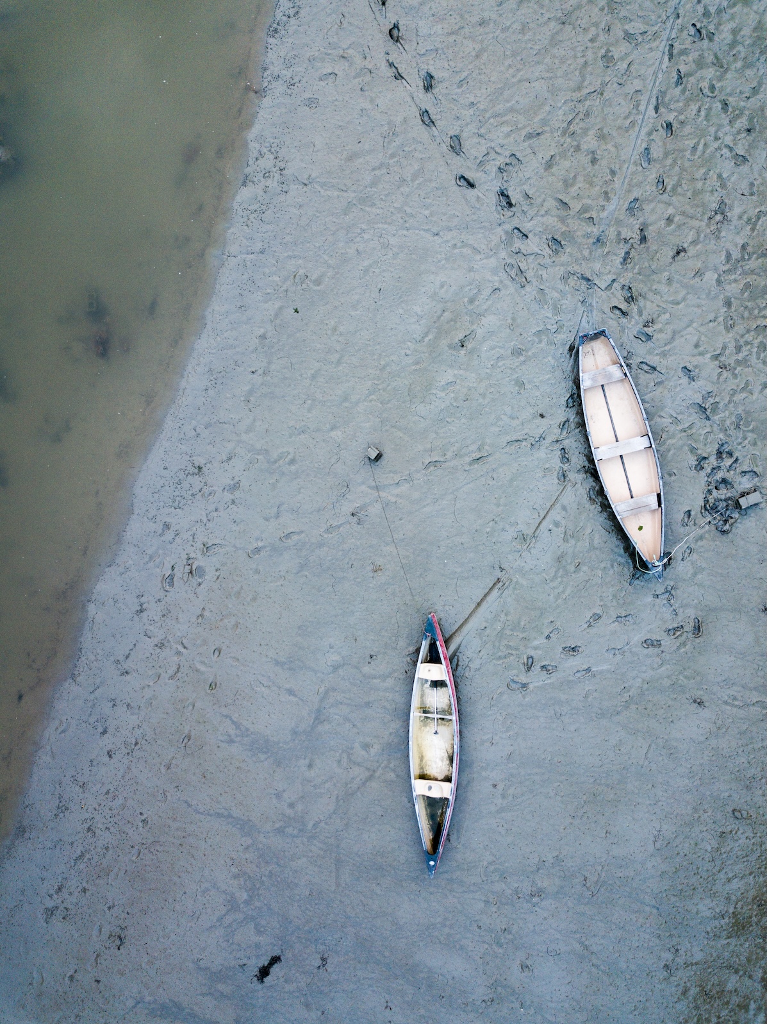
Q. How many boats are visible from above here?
2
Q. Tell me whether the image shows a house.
No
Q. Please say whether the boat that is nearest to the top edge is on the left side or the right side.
right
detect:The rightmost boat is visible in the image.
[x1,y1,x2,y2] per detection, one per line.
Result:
[579,326,667,583]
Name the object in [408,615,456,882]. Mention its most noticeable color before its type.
white boat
